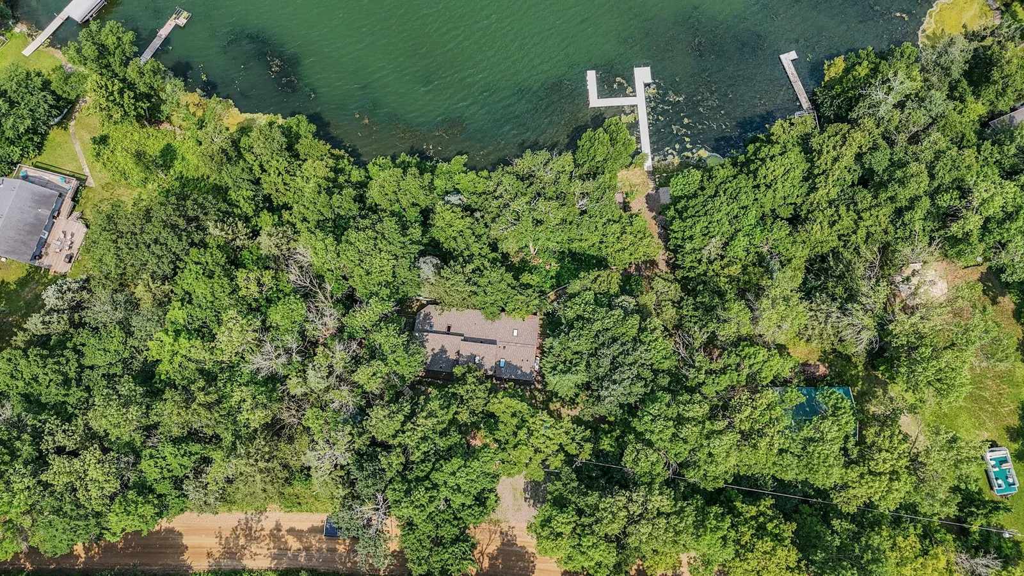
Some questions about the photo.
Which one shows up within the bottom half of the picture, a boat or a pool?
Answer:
boat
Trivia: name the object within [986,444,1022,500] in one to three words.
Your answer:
boat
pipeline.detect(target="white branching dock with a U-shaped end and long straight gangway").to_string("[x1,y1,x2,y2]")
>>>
[585,66,653,170]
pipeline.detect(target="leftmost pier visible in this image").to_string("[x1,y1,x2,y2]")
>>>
[22,11,69,56]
